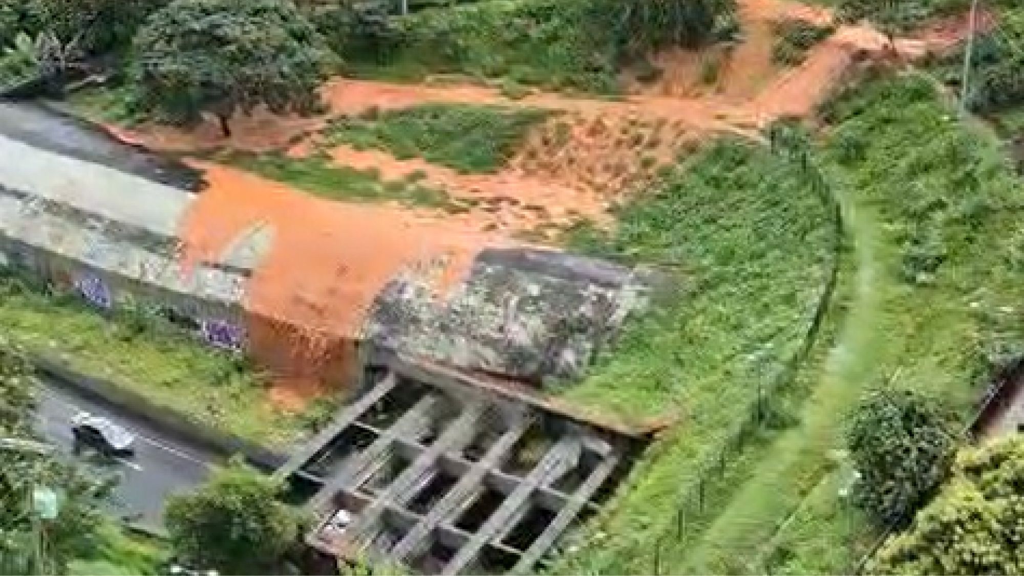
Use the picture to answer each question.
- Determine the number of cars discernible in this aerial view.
1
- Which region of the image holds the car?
bottom left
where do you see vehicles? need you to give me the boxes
[70,408,135,450]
